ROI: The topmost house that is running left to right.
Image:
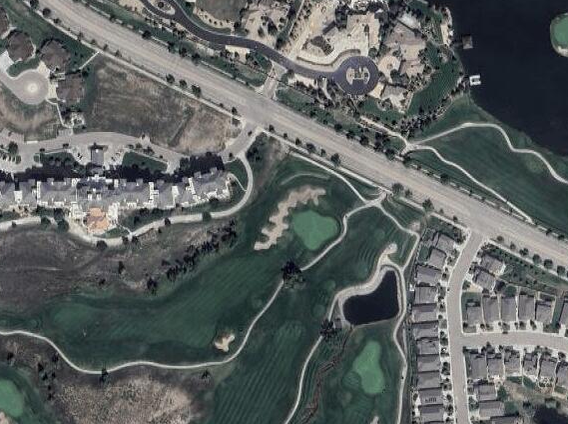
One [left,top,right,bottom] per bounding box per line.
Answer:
[245,0,295,24]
